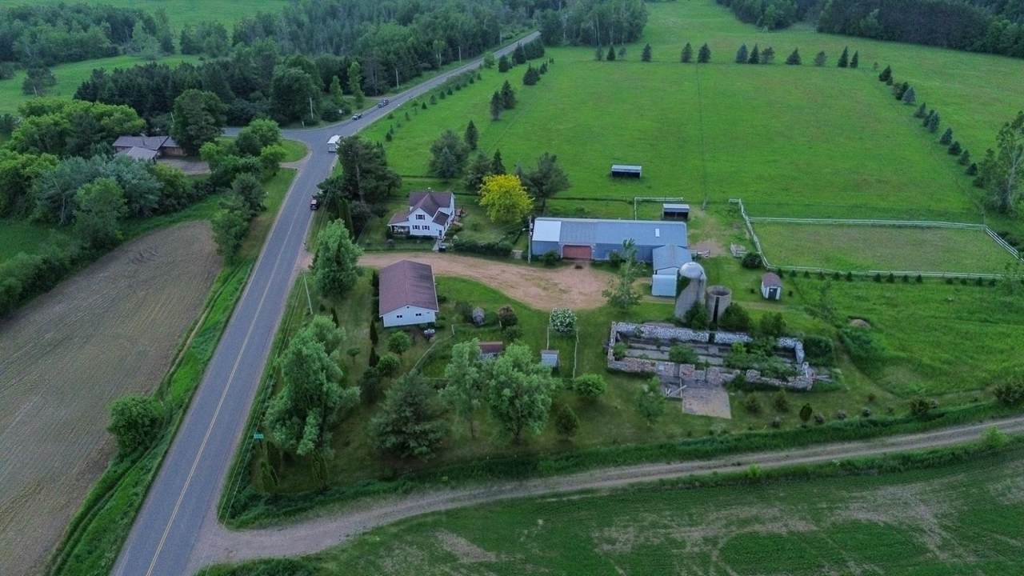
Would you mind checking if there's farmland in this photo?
Yes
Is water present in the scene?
No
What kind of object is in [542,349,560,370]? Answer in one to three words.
shed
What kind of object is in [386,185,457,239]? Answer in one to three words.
house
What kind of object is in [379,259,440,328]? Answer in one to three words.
building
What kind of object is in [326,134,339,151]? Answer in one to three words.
vehicle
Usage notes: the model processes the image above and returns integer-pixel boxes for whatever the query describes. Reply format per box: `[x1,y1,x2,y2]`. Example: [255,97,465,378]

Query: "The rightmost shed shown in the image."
[757,272,785,300]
